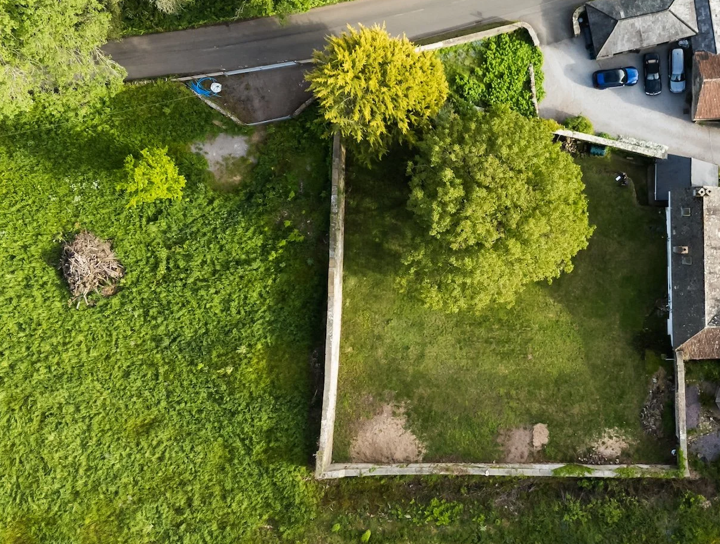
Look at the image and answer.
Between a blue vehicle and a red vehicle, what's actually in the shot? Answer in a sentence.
The image shows a blue vehicle.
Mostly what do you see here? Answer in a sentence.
Most of the picture is covered by grass.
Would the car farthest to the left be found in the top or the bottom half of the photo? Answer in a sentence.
You can find the car farthest to the left in the top half.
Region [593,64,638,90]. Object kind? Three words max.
car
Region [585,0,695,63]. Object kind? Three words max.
building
